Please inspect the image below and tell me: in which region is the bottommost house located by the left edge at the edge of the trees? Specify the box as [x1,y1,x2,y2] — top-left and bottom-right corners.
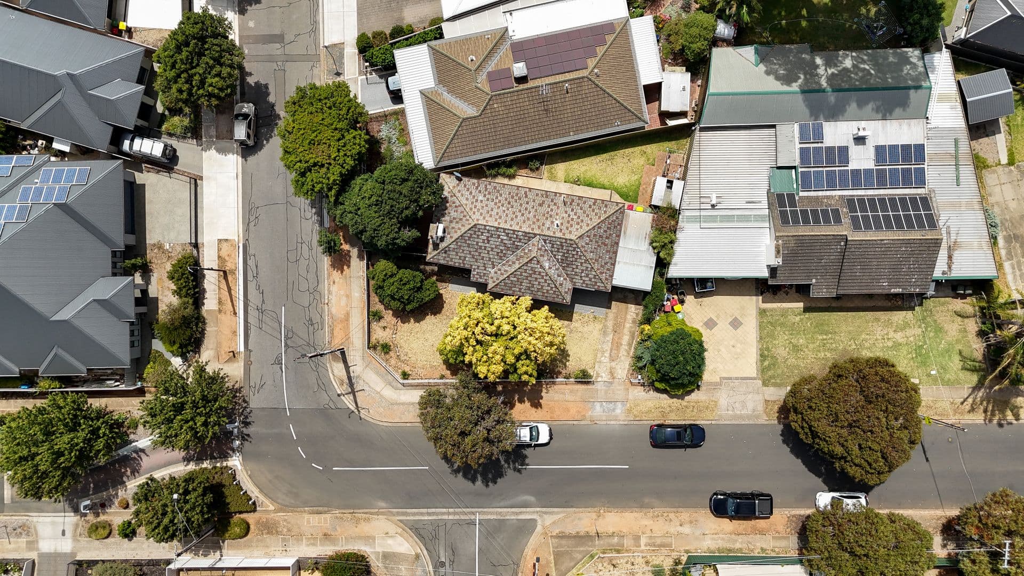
[0,153,146,376]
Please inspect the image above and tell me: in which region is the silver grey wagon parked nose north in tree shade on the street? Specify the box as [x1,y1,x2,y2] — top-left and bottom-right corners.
[230,98,260,147]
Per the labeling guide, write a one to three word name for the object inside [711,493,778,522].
truck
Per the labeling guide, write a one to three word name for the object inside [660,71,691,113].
shed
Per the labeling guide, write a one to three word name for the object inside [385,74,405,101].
car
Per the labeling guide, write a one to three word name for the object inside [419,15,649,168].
house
